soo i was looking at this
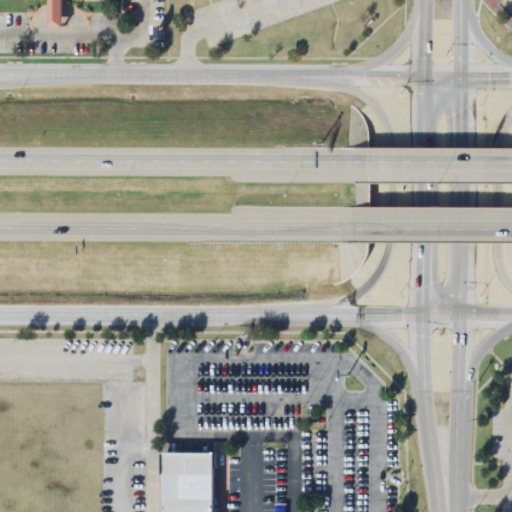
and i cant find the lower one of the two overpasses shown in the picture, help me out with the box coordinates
[352,206,512,242]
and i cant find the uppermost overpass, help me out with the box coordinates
[352,148,512,182]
